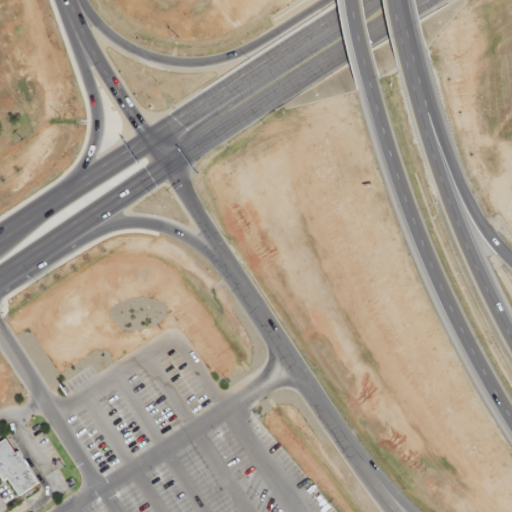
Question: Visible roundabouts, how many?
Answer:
0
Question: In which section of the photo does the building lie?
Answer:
bottom left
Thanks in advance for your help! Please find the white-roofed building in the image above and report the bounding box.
[0,438,40,496]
